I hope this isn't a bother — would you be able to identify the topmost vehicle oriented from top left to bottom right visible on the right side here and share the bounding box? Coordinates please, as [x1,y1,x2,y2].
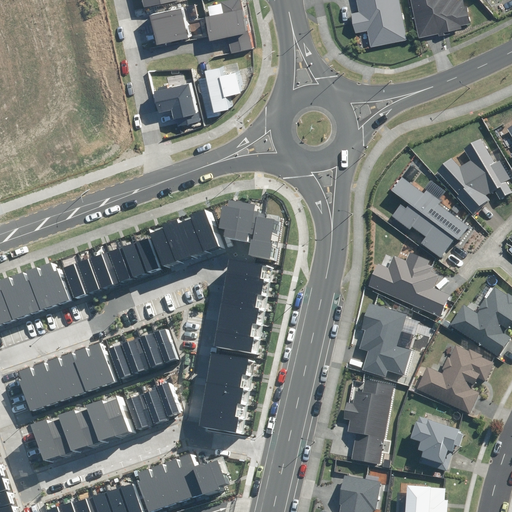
[479,204,495,222]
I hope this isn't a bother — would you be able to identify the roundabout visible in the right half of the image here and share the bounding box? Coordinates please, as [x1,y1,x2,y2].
[292,106,336,150]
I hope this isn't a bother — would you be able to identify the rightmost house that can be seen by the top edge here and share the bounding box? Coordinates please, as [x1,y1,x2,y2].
[410,0,470,38]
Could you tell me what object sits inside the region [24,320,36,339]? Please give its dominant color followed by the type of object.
white vehicle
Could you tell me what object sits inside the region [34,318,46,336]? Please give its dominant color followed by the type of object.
white vehicle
